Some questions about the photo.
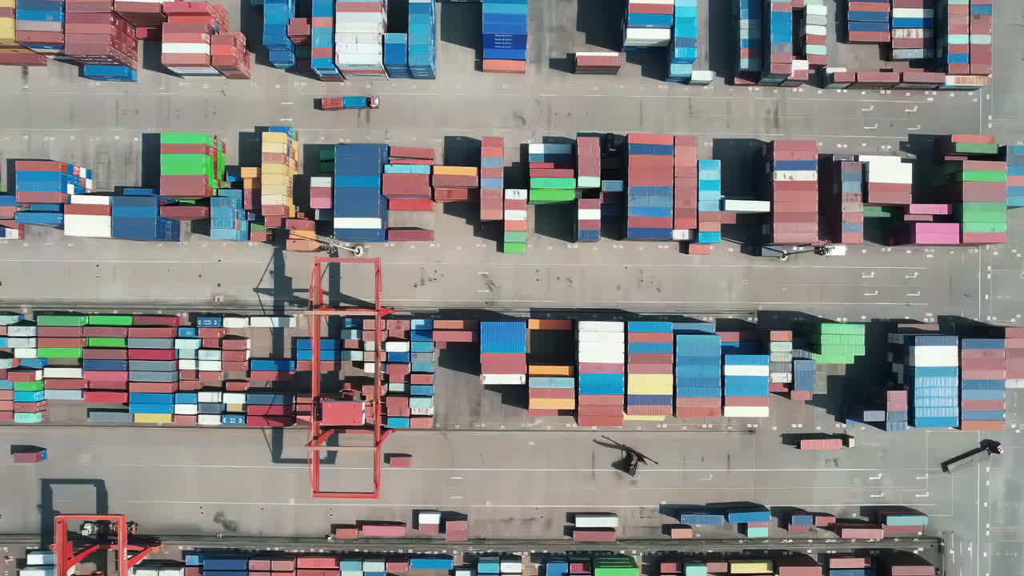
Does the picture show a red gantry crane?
Yes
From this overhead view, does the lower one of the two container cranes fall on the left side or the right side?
left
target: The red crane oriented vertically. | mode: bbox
[303,258,396,498]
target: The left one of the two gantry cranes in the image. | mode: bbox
[40,513,163,576]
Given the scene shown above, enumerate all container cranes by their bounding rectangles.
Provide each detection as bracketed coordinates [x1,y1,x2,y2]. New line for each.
[40,513,163,576]
[303,258,396,498]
